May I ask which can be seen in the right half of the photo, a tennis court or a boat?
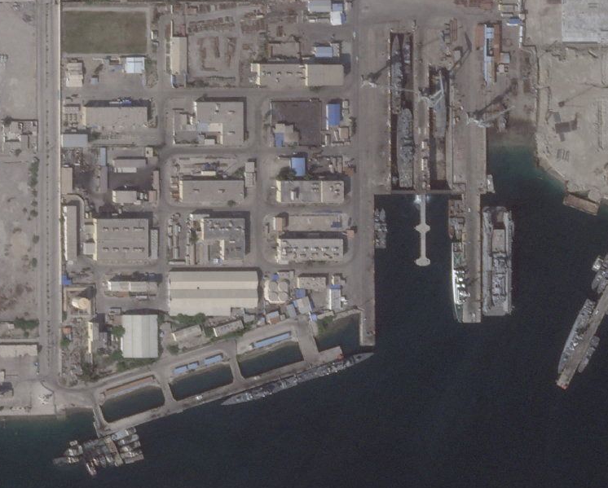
boat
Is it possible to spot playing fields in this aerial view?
Yes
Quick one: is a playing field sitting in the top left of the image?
Yes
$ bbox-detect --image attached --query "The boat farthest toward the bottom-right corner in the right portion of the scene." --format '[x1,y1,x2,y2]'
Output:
[579,336,599,372]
